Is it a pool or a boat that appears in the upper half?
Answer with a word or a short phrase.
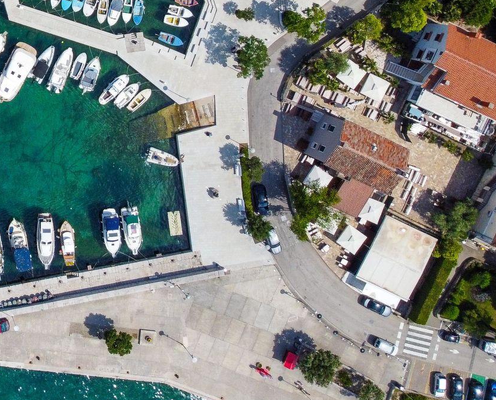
boat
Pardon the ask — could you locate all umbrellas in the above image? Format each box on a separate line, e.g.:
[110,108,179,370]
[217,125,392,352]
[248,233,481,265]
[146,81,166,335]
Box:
[337,224,366,254]
[303,165,333,189]
[321,218,338,235]
[358,198,385,221]
[337,61,366,88]
[360,74,390,101]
